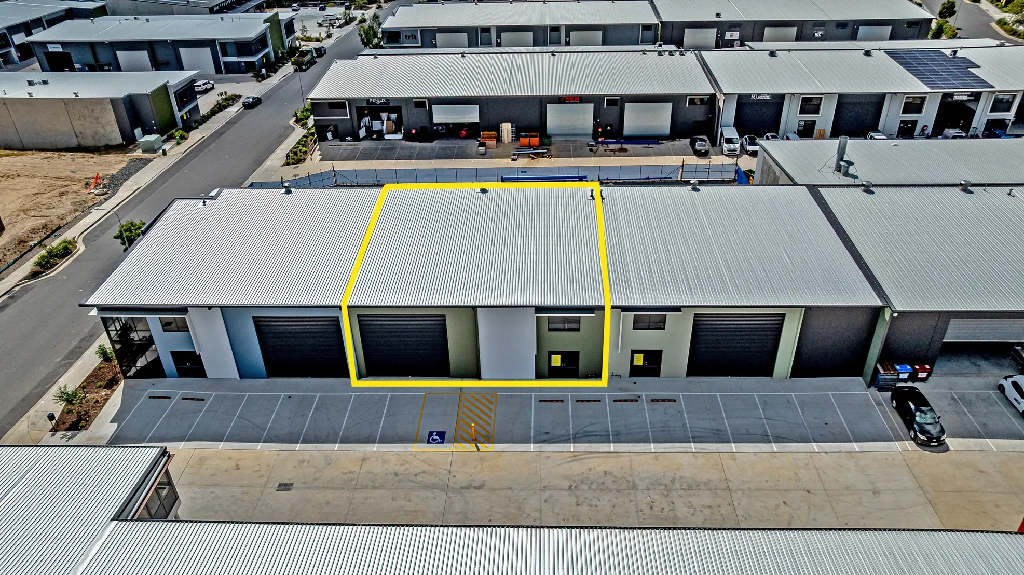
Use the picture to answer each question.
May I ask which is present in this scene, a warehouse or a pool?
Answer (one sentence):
Visible in the photo is a warehouse.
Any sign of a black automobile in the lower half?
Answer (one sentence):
Yes, a black automobile shows up in the lower half.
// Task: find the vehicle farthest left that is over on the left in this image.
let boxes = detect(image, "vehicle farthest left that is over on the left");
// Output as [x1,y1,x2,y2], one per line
[195,80,219,93]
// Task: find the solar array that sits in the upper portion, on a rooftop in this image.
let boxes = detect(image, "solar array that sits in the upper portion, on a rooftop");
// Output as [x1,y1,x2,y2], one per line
[883,47,992,88]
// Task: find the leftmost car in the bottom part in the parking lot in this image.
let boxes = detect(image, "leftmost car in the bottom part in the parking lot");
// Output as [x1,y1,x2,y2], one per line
[890,386,949,444]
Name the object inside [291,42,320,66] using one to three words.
truck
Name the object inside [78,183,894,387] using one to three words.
warehouse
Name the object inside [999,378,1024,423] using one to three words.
car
